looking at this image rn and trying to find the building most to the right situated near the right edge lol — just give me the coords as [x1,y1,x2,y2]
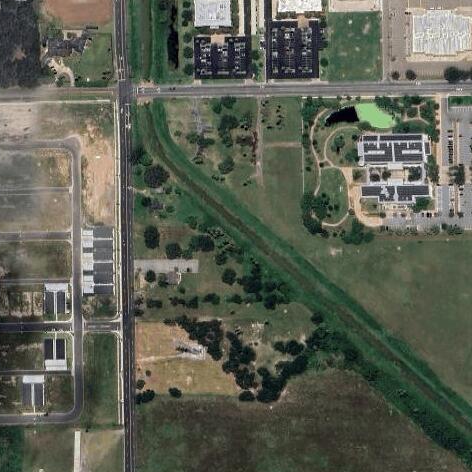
[413,10,472,57]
